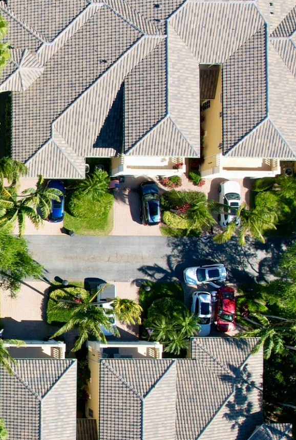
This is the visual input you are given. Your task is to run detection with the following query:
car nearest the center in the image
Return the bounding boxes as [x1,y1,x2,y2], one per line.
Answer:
[138,182,162,226]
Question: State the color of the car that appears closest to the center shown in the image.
black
